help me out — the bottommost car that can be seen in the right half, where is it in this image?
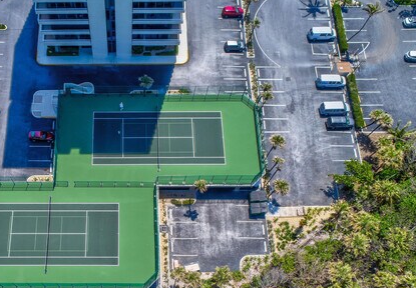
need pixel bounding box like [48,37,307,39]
[326,117,353,130]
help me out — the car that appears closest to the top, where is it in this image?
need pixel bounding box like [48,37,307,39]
[218,4,241,16]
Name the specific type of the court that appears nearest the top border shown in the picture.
tennis court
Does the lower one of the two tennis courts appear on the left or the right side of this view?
left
